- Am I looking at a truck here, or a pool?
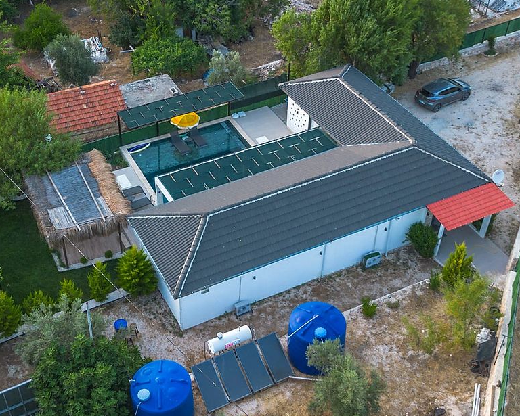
pool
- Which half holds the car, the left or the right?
right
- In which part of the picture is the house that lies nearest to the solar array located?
center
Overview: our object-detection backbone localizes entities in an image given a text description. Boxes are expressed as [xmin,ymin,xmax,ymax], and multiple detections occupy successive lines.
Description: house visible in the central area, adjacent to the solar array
[125,61,492,331]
